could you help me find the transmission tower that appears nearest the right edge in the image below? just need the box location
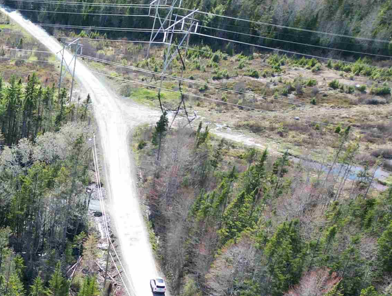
[161,7,195,90]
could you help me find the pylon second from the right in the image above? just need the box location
[146,0,173,58]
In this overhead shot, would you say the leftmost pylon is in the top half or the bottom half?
top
